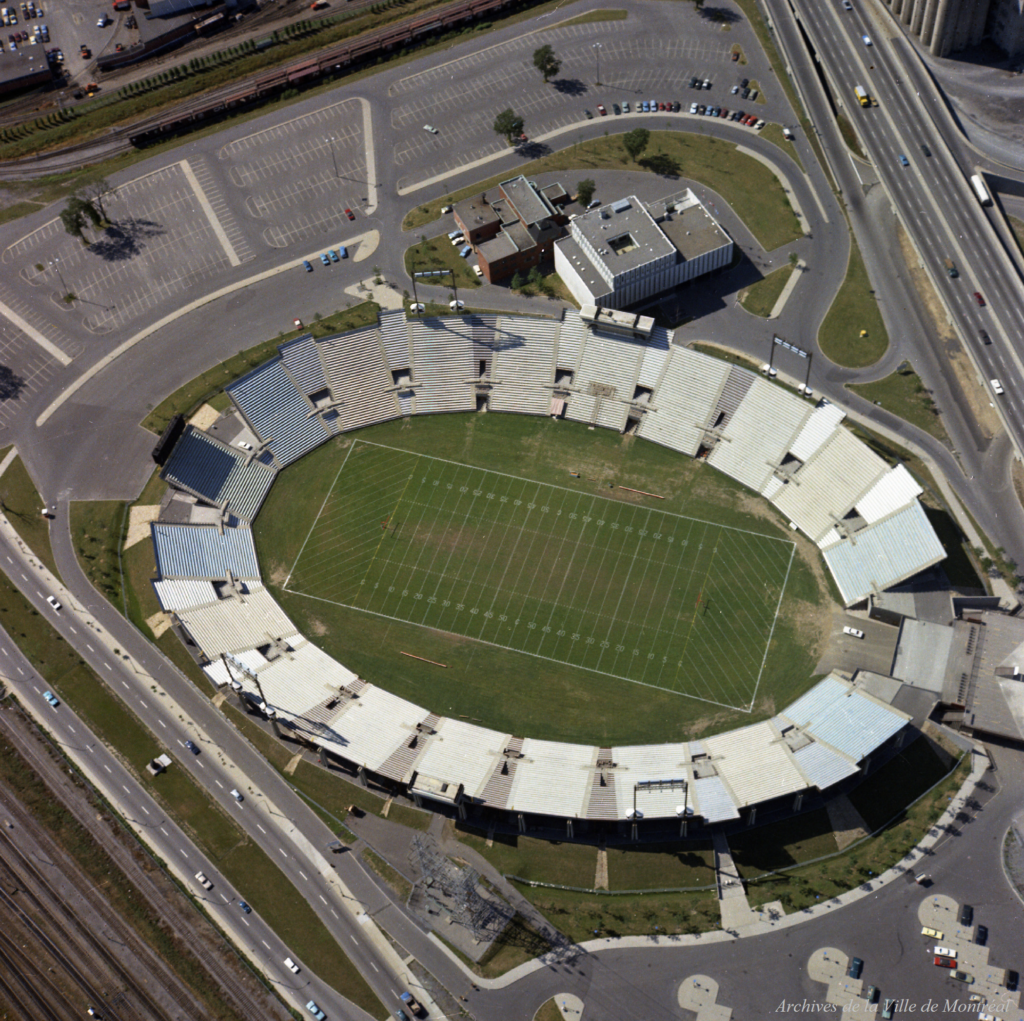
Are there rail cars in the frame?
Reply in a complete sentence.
Yes, I can see a rail car in this picture.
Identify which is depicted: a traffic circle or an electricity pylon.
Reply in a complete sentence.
Looking from above, you can make out an electricity pylon.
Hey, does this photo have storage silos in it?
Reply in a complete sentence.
Yes, the image includes a storage silo.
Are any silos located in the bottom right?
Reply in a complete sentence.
No, no silo appears in the bottom right.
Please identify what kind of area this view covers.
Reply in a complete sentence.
The picture captures a sports ground.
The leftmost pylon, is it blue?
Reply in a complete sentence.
No, from above the leftmost pylon looks gray.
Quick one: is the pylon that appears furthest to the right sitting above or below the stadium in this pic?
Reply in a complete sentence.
The position of the pylon that appears furthest to the right is below the stadium.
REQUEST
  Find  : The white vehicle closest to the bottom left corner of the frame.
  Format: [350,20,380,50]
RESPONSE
[195,872,213,889]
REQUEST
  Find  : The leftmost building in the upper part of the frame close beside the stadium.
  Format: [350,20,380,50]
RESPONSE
[453,175,566,284]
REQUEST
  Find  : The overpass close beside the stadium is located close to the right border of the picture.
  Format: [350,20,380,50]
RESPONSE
[786,0,1024,466]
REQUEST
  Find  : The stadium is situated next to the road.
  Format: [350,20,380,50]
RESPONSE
[123,310,944,841]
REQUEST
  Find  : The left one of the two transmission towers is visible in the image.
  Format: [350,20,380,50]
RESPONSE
[401,849,460,905]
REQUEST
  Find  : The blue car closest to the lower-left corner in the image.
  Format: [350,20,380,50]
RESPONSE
[238,900,253,914]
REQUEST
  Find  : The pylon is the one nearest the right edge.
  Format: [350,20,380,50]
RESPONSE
[457,880,508,944]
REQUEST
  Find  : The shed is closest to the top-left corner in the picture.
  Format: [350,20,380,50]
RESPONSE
[0,43,60,103]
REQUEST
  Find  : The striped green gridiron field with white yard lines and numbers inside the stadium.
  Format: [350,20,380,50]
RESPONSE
[252,411,845,747]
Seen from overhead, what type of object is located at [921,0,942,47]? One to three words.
silo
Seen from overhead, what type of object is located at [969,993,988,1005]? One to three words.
vehicle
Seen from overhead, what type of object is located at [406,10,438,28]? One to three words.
rail car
